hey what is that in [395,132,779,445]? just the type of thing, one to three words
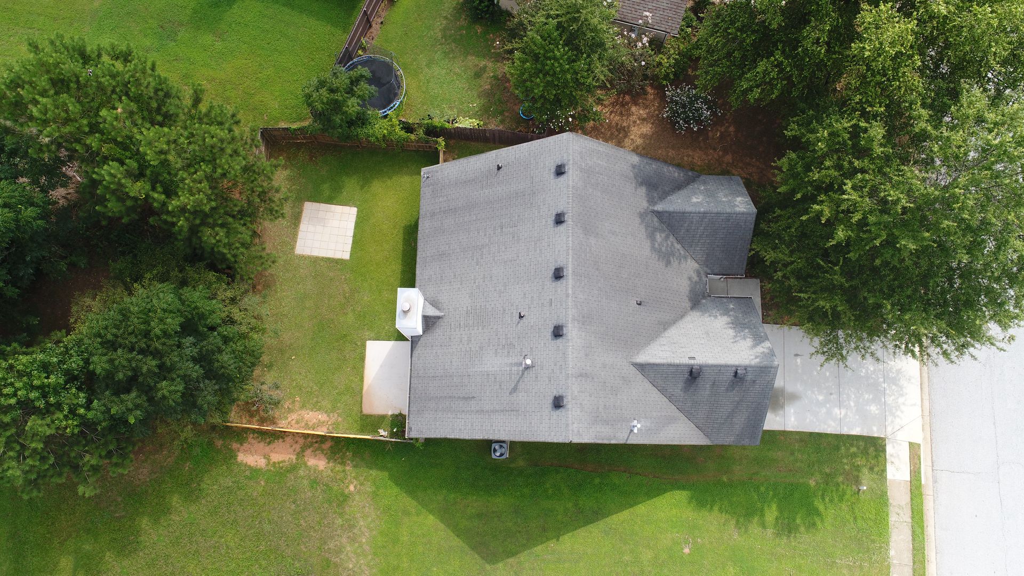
house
